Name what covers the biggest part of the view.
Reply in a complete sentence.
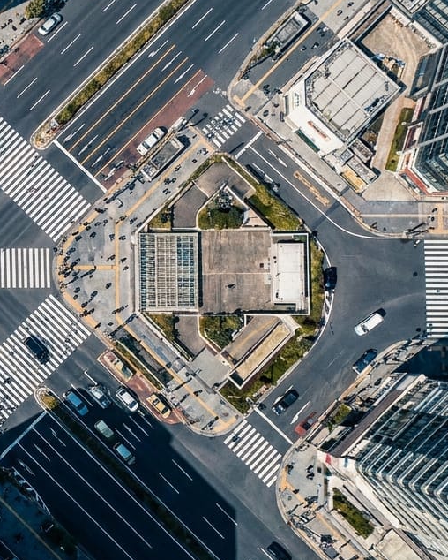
Most of the picture is covered by paved ground.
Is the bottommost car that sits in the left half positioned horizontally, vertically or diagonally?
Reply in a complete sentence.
The bottommost car that sits in the left half runs diagonally in the image.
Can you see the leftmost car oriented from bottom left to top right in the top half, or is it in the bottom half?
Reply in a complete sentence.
Seen from above, the leftmost car oriented from bottom left to top right lies in the top half of the view.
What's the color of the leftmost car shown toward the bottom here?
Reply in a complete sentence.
The leftmost car shown toward the bottom is black.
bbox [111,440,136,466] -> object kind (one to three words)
car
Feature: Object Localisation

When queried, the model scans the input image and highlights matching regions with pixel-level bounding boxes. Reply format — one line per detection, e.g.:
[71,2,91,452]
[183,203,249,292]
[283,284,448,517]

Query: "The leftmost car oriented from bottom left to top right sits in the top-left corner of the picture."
[36,11,64,40]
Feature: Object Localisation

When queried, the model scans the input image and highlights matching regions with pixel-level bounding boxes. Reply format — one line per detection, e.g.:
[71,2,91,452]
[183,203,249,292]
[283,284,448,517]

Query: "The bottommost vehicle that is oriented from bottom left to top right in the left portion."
[135,125,168,158]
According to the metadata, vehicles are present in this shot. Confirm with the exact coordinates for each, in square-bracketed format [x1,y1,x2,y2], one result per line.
[416,240,424,248]
[114,383,140,413]
[350,348,378,375]
[135,125,168,158]
[36,11,64,40]
[293,411,318,437]
[102,349,133,381]
[143,392,171,420]
[352,307,388,337]
[60,388,90,419]
[111,440,136,466]
[324,266,337,291]
[85,380,113,409]
[91,418,115,443]
[270,387,299,414]
[263,537,294,560]
[21,333,52,365]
